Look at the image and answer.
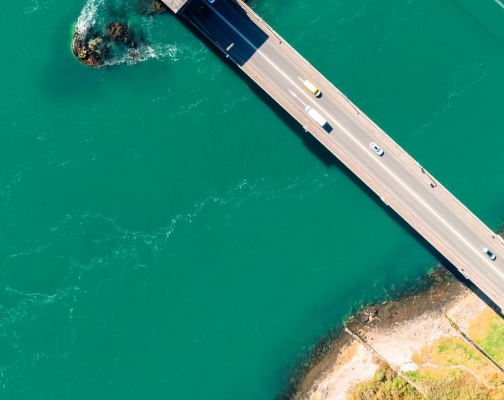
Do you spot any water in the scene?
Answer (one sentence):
Yes, there is water in the image.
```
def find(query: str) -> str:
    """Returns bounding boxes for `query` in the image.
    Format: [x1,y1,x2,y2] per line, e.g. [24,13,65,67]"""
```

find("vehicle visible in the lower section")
[482,248,496,261]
